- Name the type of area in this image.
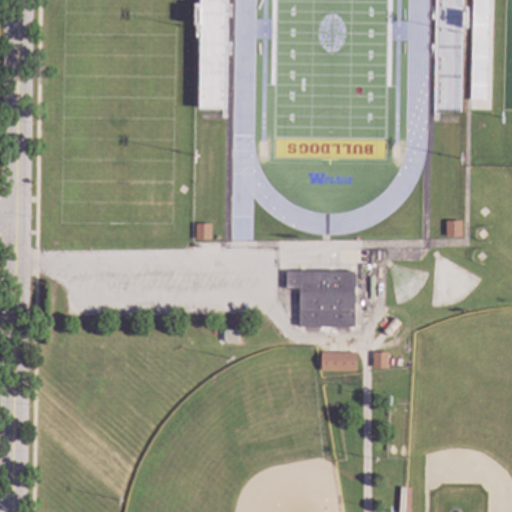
sports ground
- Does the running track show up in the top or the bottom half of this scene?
top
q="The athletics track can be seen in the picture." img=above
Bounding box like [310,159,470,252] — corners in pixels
[234,0,430,241]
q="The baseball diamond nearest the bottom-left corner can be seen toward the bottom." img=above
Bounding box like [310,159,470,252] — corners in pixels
[122,346,344,512]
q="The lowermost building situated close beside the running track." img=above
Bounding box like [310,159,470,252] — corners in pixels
[287,270,356,330]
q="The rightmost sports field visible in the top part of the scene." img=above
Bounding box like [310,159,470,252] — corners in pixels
[257,0,408,213]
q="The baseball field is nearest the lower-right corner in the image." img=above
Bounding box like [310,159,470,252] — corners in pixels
[407,308,512,512]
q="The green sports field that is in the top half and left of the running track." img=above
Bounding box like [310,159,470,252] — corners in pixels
[43,0,194,248]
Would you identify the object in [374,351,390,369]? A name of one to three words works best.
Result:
building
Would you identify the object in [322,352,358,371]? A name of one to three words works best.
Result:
building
